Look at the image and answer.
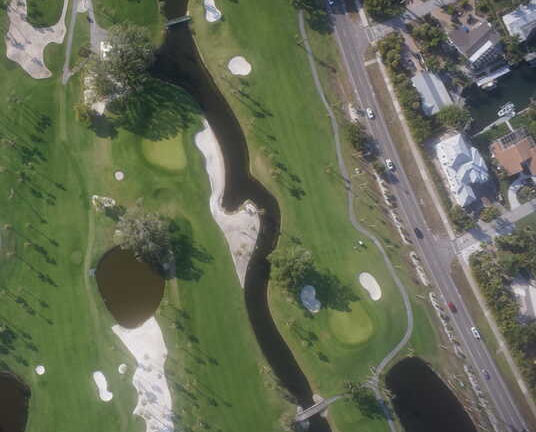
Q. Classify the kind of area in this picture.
golf course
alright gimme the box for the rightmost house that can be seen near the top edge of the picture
[500,2,536,44]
